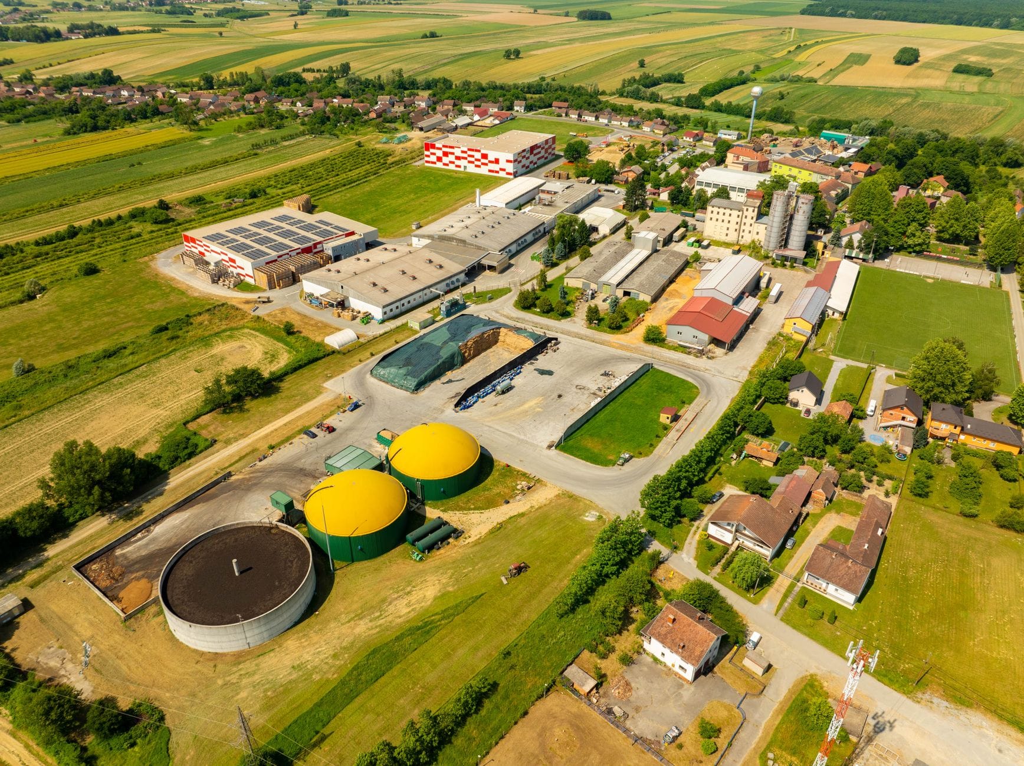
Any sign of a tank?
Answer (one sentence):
Yes, a tank is visible in the scene.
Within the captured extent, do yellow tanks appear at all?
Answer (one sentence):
Yes, there's a yellow tank down there.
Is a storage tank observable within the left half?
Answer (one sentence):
Yes, a storage tank can be seen within the left half.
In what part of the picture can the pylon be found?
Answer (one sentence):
Look in the bottom left portion of the view to spot the pylon.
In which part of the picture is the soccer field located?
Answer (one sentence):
The soccer field appears toward the right of the photo.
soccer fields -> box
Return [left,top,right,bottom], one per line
[832,264,1024,396]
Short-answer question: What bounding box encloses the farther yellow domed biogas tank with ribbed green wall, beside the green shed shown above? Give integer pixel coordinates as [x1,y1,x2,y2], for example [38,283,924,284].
[388,422,482,503]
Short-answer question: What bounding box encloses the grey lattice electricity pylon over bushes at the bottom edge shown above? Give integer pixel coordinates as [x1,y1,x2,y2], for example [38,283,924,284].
[222,707,260,766]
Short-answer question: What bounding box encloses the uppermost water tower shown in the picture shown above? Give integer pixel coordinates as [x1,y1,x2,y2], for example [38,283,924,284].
[747,85,764,140]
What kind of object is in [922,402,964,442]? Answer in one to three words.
house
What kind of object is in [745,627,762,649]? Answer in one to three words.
car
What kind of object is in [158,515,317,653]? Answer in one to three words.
storage tank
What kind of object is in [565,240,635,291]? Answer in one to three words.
shed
